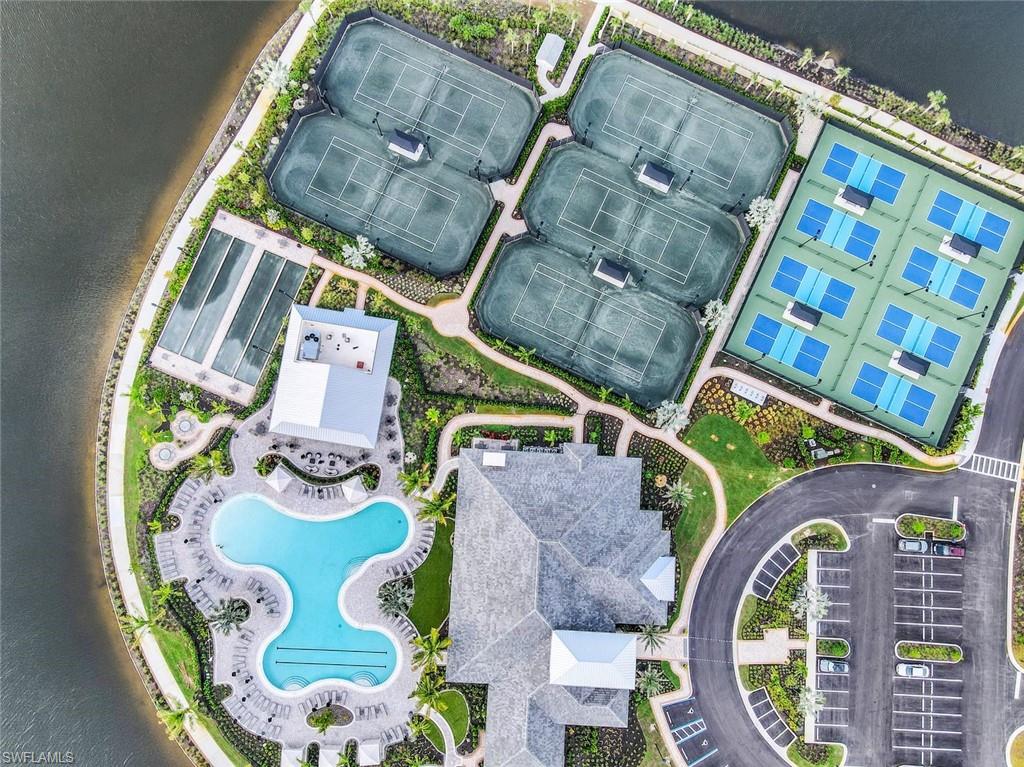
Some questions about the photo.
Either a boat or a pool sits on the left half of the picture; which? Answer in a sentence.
There is a pool on the left half of the picture.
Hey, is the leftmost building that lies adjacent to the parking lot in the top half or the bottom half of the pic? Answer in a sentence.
Seen from above, the leftmost building that lies adjacent to the parking lot lies in the bottom half of the view.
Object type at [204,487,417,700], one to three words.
swimming pool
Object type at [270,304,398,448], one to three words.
building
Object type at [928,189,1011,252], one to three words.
sports court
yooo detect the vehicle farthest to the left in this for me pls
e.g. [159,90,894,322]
[821,660,850,675]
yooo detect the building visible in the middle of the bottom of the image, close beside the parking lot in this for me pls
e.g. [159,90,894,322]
[445,443,677,767]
